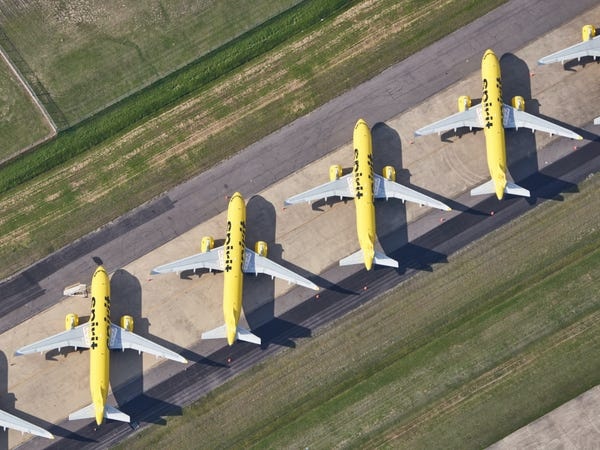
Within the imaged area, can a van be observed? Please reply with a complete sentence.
No, I can't see a single van in this photo.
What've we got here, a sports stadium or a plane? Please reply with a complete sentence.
The image shows a plane.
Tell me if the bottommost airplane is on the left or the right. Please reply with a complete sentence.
The bottommost airplane sits on the left side.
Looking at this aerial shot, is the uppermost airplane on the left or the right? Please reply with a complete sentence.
You can find the uppermost airplane on the right side of the picture.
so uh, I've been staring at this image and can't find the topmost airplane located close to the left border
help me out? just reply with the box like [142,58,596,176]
[15,267,188,425]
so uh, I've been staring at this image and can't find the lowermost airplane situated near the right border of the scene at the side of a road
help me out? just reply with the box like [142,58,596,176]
[414,50,582,202]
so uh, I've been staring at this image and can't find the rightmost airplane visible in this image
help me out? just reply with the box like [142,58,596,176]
[537,28,600,67]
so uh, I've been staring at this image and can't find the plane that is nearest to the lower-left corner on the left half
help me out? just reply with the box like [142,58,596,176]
[0,414,53,441]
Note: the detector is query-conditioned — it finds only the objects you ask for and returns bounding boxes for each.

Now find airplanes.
[15,267,188,425]
[0,414,53,441]
[537,28,600,67]
[282,119,452,273]
[414,50,582,202]
[149,192,320,347]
